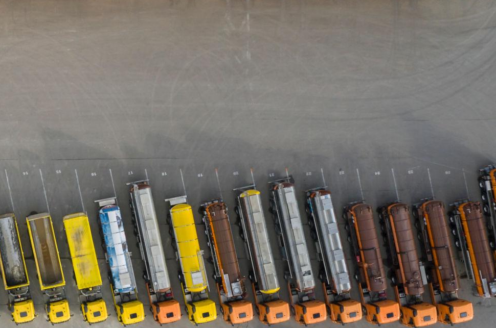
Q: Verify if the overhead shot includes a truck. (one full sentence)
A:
Yes, looking at the shot, I can spot a truck.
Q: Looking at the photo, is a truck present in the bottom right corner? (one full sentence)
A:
Yes, a truck shows up in the bottom right corner.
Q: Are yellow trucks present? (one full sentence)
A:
Yes, there's a yellow truck here.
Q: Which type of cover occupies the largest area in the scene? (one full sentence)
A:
The largest share of the image is taken up by paved ground.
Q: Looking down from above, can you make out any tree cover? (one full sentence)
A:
No, there's no tree cover in this view.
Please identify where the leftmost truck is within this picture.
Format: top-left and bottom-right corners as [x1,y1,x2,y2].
[0,210,40,328]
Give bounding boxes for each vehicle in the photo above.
[125,179,184,328]
[231,183,294,327]
[410,195,476,328]
[263,177,330,327]
[199,197,257,327]
[300,185,366,328]
[164,192,220,328]
[0,210,40,328]
[376,198,440,328]
[61,210,112,328]
[342,198,402,328]
[94,193,148,327]
[26,209,76,328]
